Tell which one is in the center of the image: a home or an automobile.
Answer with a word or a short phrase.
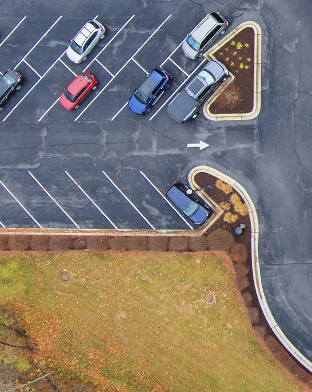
automobile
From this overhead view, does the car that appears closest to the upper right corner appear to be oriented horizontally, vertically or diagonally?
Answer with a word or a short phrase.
diagonally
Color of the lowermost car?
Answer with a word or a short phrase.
blue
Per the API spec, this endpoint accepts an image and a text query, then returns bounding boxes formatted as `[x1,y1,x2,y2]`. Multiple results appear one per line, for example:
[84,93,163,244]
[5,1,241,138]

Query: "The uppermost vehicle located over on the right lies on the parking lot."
[182,10,229,60]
